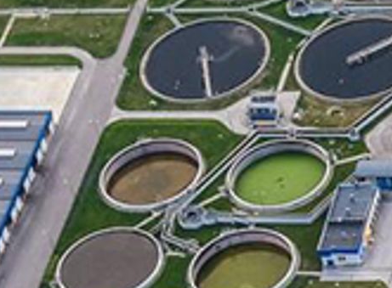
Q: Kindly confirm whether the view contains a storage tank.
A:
Yes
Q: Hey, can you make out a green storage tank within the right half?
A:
Yes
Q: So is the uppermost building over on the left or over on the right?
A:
right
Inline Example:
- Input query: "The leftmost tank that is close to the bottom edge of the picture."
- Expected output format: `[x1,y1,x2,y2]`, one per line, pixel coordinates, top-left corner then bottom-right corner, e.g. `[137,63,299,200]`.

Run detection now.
[56,225,165,288]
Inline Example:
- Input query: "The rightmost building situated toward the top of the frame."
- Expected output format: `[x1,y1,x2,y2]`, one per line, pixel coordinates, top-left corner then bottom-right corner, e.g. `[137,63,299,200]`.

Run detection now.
[247,93,283,122]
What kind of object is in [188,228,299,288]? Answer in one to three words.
storage tank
